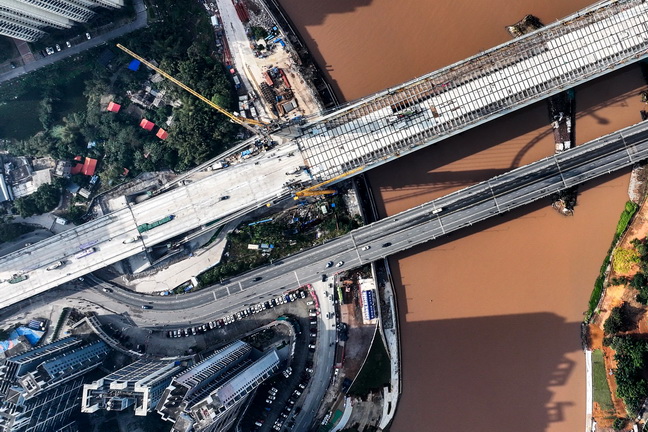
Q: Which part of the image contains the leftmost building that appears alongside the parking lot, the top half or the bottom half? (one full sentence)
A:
The bottom half of the photo is where the leftmost building that appears alongside the parking lot is.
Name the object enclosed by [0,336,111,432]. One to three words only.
building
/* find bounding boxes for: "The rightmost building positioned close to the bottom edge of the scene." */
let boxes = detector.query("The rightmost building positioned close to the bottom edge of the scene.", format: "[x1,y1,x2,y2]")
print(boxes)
[149,334,287,432]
